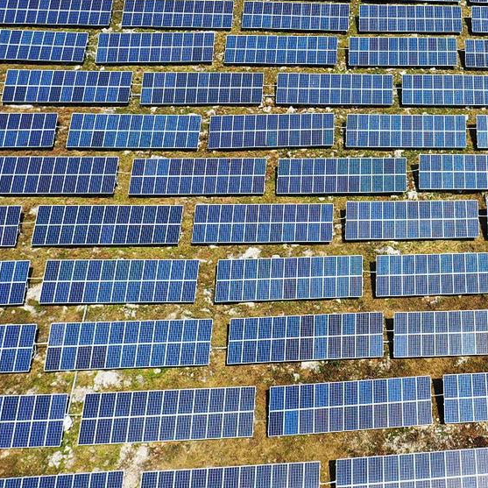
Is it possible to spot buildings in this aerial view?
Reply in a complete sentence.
No, the picture doesn't show any building.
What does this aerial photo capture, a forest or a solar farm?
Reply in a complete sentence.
This image shows a solar farm.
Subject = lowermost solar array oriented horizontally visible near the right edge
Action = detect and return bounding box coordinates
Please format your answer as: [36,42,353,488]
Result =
[336,449,488,488]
